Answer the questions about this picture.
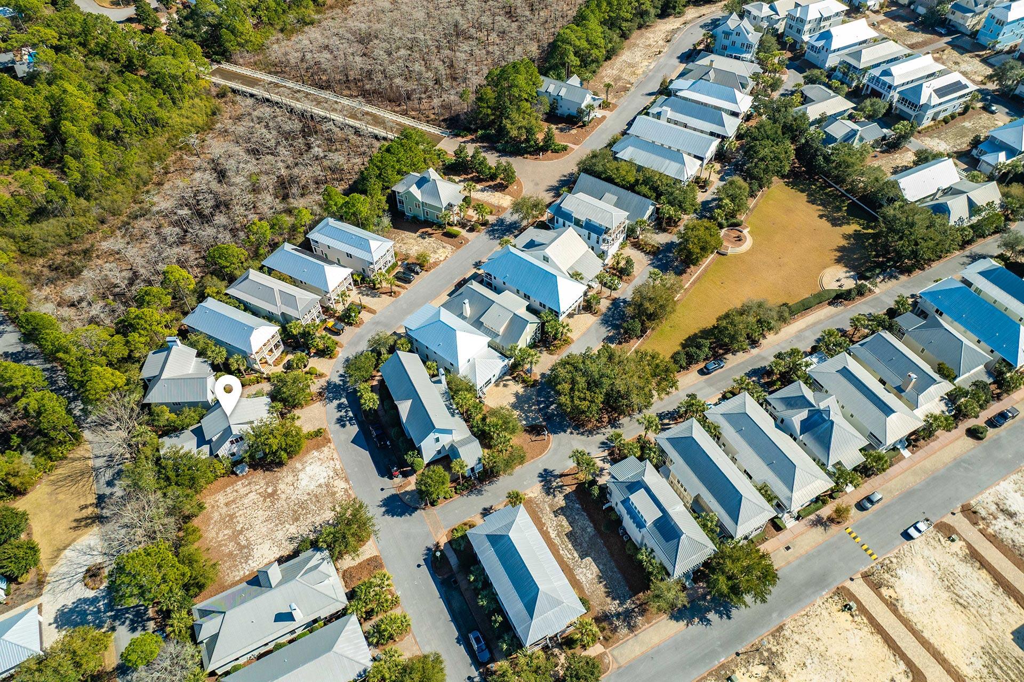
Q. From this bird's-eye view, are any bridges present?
Yes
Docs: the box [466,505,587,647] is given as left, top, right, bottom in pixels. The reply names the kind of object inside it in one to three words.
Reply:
house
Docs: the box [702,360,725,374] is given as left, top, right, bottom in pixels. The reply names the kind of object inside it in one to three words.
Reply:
car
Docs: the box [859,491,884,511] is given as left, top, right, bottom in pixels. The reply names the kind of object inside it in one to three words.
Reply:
car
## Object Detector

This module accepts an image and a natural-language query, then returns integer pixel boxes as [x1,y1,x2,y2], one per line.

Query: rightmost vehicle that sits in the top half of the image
[980,101,998,113]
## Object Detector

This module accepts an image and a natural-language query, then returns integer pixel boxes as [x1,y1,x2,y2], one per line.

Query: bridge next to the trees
[197,58,455,154]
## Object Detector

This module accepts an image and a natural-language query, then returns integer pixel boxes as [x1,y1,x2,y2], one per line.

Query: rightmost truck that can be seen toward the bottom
[992,404,1019,426]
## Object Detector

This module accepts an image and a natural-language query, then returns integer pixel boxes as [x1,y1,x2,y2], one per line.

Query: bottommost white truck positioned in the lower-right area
[903,519,937,542]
